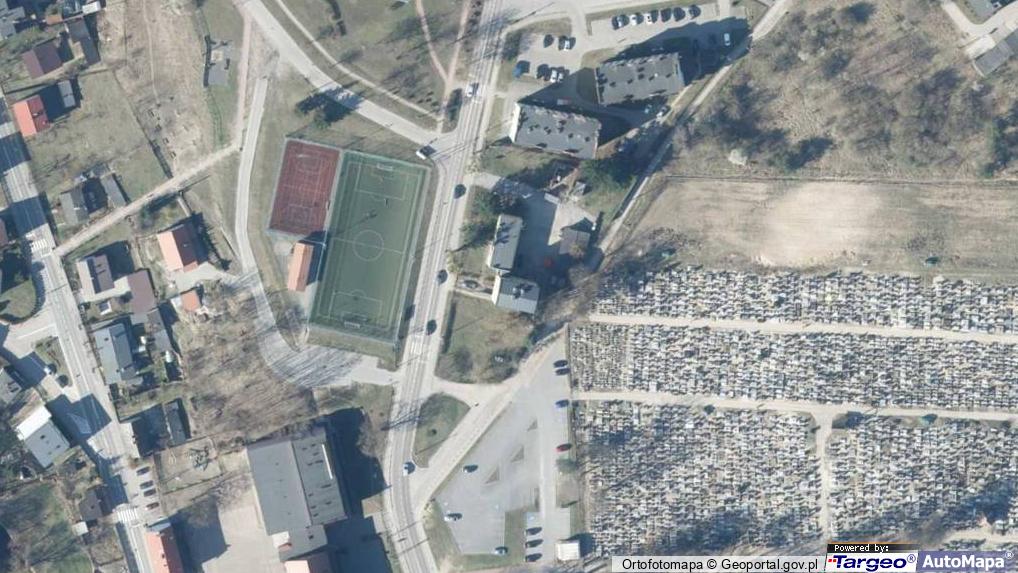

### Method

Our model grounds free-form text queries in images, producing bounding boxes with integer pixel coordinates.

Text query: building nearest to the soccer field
[288,243,314,291]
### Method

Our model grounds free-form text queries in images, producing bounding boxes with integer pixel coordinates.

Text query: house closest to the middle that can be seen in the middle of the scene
[495,276,539,314]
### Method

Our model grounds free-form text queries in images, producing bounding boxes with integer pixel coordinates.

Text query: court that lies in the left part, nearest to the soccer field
[268,141,340,240]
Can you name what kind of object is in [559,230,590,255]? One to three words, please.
shed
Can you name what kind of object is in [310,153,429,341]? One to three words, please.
soccer field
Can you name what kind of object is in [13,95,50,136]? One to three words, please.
house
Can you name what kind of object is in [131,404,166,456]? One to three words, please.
building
